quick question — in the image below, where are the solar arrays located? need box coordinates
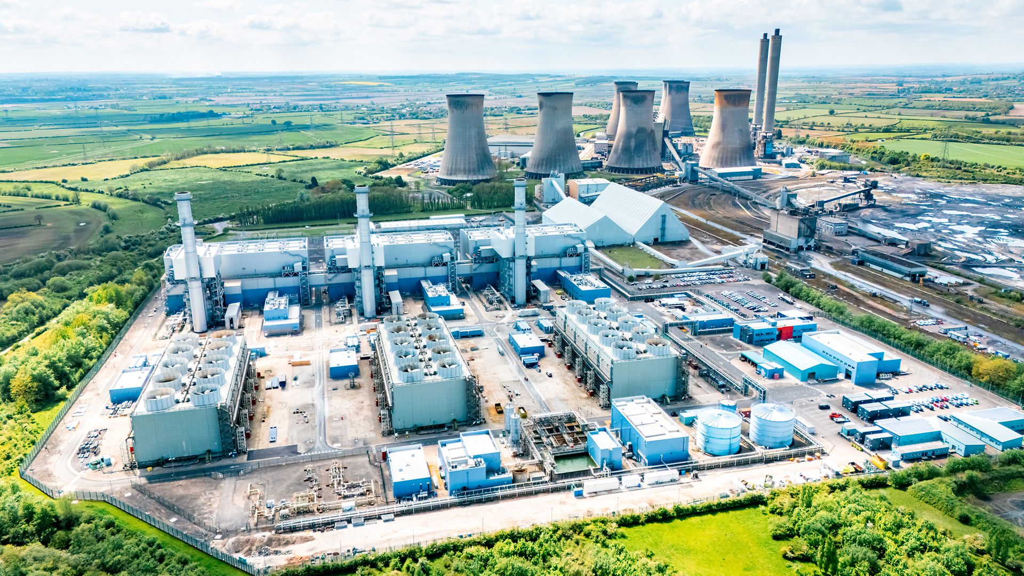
[975,402,1024,419]
[885,417,934,433]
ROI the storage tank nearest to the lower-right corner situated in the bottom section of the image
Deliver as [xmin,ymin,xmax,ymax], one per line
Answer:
[750,400,800,449]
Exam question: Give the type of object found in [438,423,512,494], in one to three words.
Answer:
house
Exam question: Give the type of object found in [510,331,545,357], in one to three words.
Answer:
building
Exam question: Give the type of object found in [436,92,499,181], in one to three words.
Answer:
cooling tower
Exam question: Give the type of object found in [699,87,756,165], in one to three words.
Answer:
cooling tower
